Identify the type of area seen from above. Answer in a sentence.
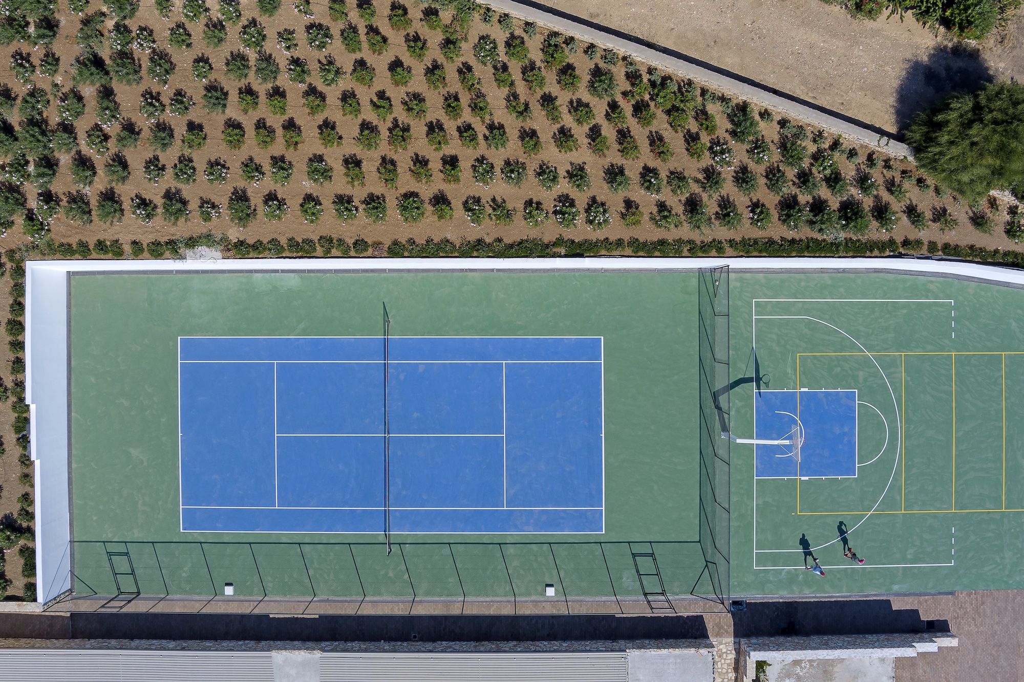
It's a sports ground.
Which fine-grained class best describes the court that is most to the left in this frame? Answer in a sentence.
I'd say the court that is most to the left is a tennis court.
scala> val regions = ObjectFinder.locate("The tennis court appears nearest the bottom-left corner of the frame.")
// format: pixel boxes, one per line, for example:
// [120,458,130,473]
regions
[70,273,715,597]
